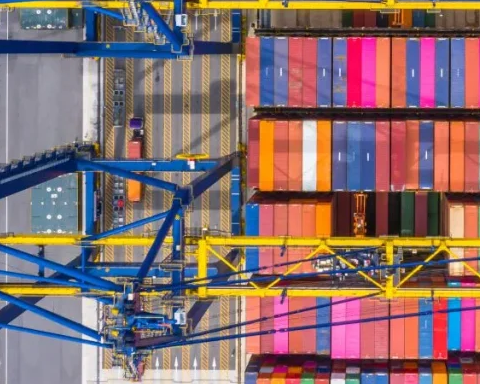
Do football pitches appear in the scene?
No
